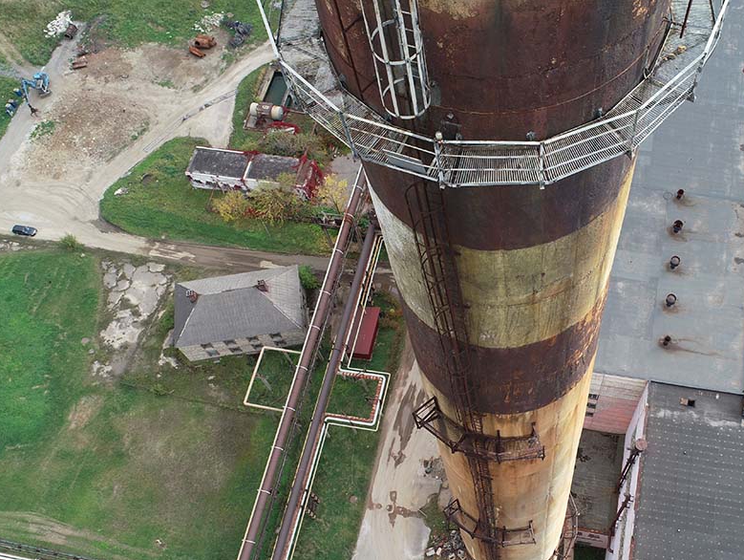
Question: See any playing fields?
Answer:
No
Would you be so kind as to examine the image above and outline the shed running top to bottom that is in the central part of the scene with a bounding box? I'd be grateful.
[350,306,382,365]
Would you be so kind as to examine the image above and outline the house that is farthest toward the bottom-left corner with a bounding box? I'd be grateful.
[173,267,309,357]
